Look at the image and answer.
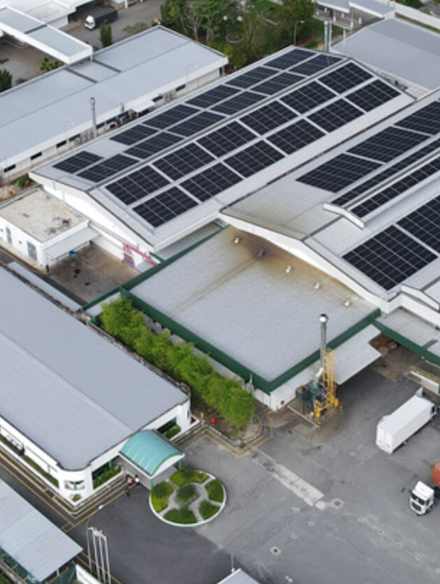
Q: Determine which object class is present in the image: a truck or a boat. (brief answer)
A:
truck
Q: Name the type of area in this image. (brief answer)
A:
industrial area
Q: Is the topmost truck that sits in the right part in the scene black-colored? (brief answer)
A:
No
